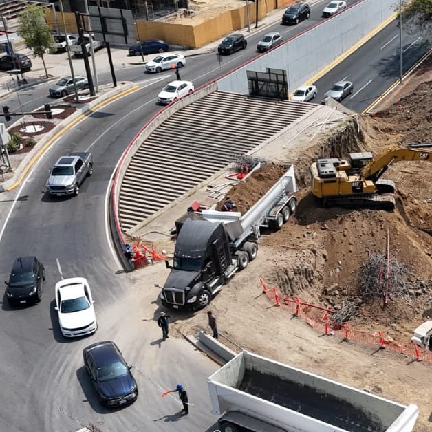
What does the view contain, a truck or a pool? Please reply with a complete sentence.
There is a truck in the scene.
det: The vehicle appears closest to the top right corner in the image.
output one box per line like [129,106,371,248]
[325,2,351,18]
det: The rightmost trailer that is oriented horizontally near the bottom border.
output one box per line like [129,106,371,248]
[205,347,416,432]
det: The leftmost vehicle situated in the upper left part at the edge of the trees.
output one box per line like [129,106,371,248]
[0,52,34,72]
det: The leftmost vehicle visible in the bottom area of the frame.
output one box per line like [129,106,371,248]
[6,253,55,303]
